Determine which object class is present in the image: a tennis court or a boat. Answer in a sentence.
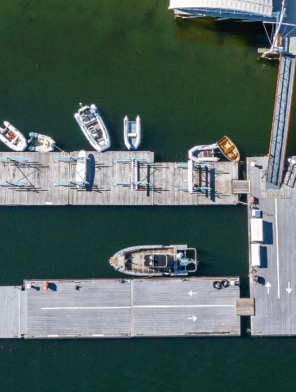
I can see a boat in this picture.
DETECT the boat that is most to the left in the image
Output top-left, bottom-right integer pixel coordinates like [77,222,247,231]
[0,121,28,151]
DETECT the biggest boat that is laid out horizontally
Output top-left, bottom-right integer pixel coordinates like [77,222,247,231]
[107,245,203,277]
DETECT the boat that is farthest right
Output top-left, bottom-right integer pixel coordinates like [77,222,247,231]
[217,136,240,162]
